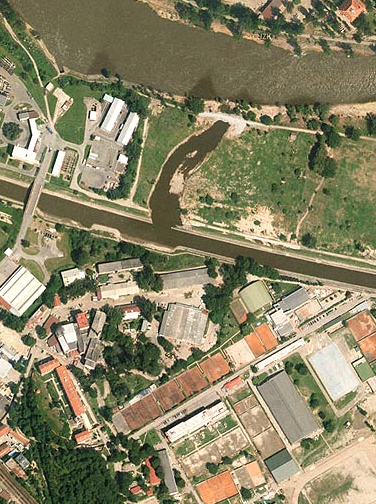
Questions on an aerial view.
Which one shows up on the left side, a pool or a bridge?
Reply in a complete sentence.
The one visible on the left side is a bridge.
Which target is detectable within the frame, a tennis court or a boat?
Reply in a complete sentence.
Looking from above, you can make out a tennis court.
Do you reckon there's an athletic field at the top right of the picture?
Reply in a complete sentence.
No, no athletic field is visible at the top right of the picture.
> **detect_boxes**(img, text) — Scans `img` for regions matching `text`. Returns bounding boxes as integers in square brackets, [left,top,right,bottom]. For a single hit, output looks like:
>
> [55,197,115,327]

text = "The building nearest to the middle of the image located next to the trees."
[155,266,211,293]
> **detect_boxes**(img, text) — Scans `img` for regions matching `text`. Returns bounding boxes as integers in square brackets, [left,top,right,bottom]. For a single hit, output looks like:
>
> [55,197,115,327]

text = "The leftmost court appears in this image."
[121,393,164,430]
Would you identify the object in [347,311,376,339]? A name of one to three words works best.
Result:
tennis court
